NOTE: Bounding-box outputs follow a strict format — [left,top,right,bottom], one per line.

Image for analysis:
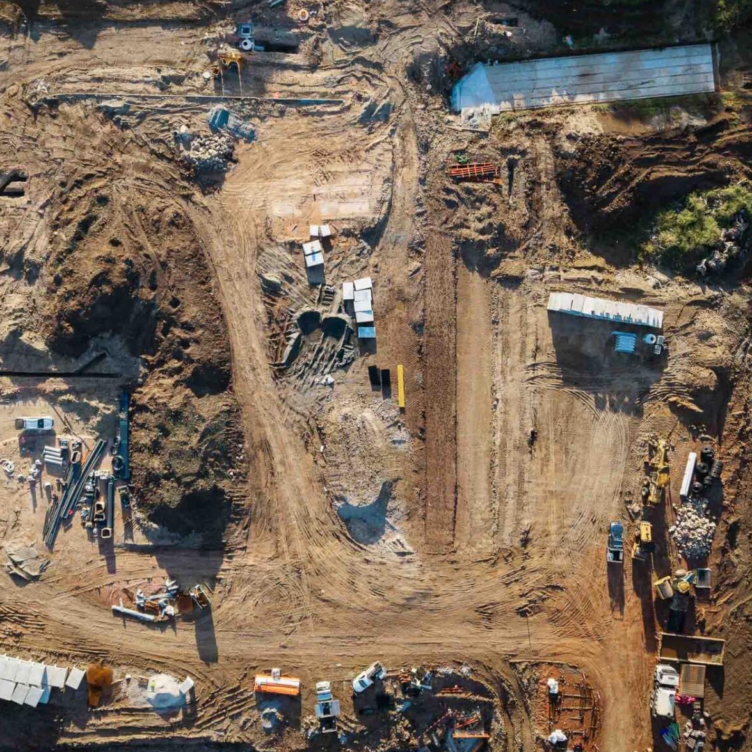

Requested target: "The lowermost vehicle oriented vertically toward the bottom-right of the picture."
[646,658,675,735]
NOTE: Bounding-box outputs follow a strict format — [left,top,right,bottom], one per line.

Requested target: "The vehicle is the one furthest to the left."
[17,416,59,433]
